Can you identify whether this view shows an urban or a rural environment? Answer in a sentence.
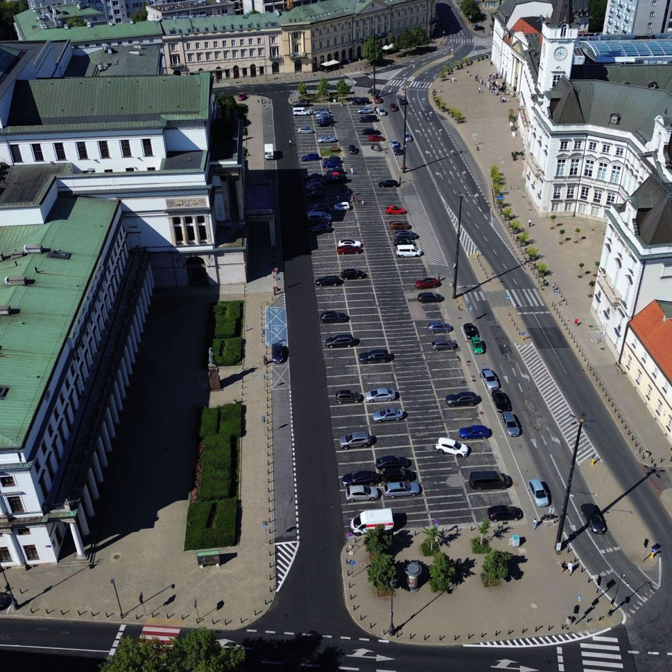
From above, the setting appears urban.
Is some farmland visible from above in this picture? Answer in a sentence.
No, no farmland is visible.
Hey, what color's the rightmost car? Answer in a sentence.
In this view, the rightmost car is black.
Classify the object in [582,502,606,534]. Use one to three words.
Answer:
car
